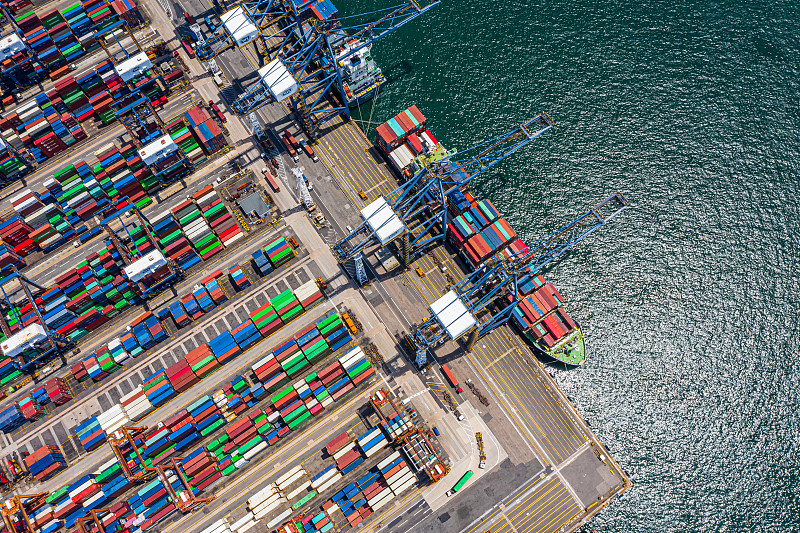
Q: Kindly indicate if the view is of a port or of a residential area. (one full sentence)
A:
This looks like a port.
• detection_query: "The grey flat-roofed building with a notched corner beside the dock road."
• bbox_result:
[238,190,272,221]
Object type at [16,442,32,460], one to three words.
work vehicle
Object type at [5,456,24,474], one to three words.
work vehicle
